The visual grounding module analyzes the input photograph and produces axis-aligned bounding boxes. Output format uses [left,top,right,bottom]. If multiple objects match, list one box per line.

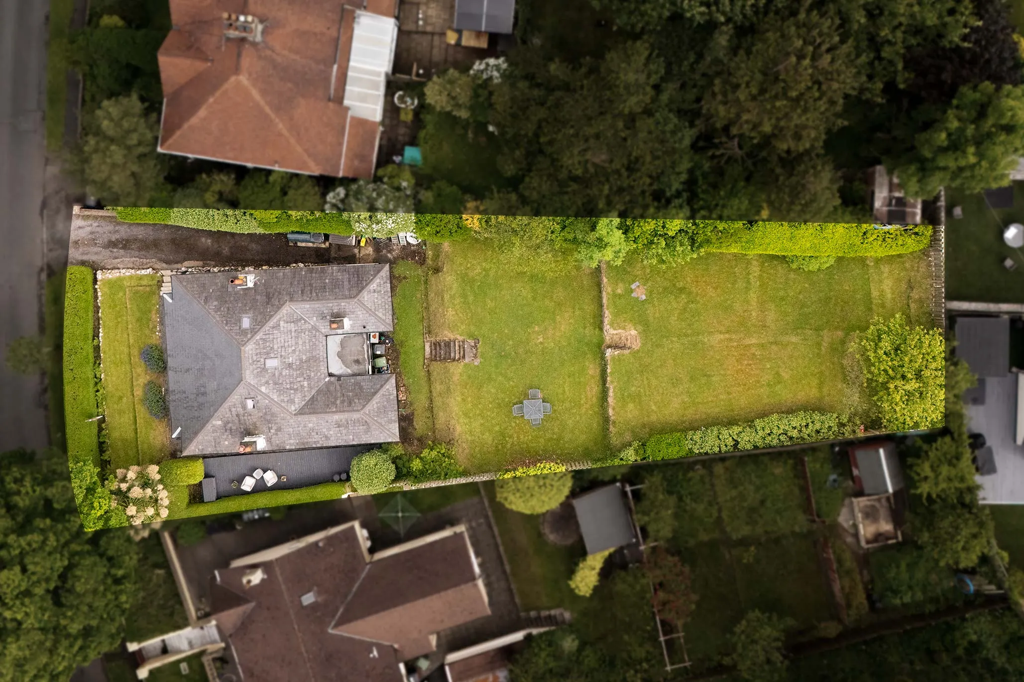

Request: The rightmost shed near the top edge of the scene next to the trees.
[454,0,515,48]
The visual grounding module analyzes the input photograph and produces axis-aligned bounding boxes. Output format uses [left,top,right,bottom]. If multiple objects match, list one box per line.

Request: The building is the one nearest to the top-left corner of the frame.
[157,0,401,182]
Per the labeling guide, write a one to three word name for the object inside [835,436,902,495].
shed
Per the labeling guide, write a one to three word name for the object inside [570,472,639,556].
shed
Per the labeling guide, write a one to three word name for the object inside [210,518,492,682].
house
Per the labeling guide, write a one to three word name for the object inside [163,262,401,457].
house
